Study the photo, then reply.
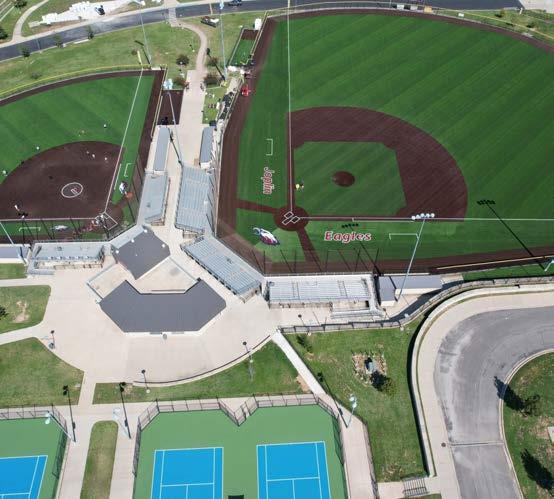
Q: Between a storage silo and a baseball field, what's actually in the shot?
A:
baseball field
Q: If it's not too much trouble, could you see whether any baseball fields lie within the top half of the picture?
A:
Yes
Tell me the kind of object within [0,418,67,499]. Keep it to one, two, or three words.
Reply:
tennis court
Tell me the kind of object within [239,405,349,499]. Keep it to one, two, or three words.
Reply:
tennis court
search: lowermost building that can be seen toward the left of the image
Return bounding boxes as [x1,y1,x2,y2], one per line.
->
[100,279,226,337]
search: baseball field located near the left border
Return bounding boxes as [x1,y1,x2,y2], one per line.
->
[0,68,165,243]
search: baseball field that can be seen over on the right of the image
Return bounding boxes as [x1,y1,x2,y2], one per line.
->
[218,8,554,274]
